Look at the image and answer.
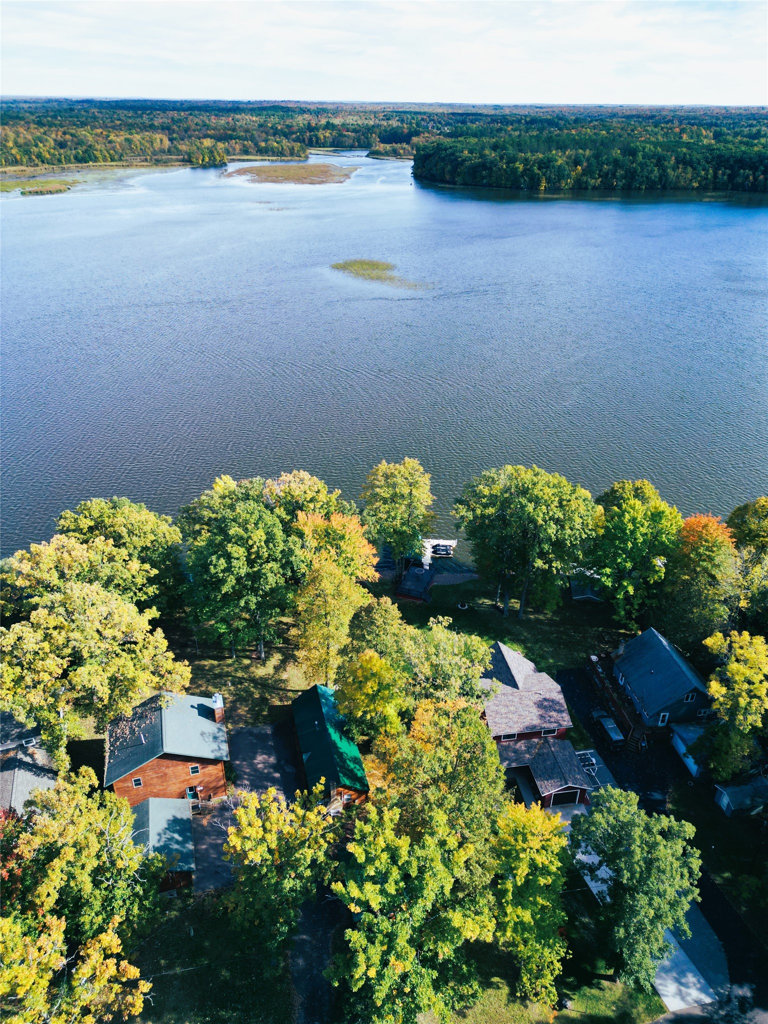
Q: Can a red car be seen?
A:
No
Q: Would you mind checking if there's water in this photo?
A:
Yes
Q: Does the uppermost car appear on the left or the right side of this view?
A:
right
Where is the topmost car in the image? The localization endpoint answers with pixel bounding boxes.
[593,708,626,745]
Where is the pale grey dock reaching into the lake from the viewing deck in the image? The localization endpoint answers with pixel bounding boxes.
[423,536,459,568]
